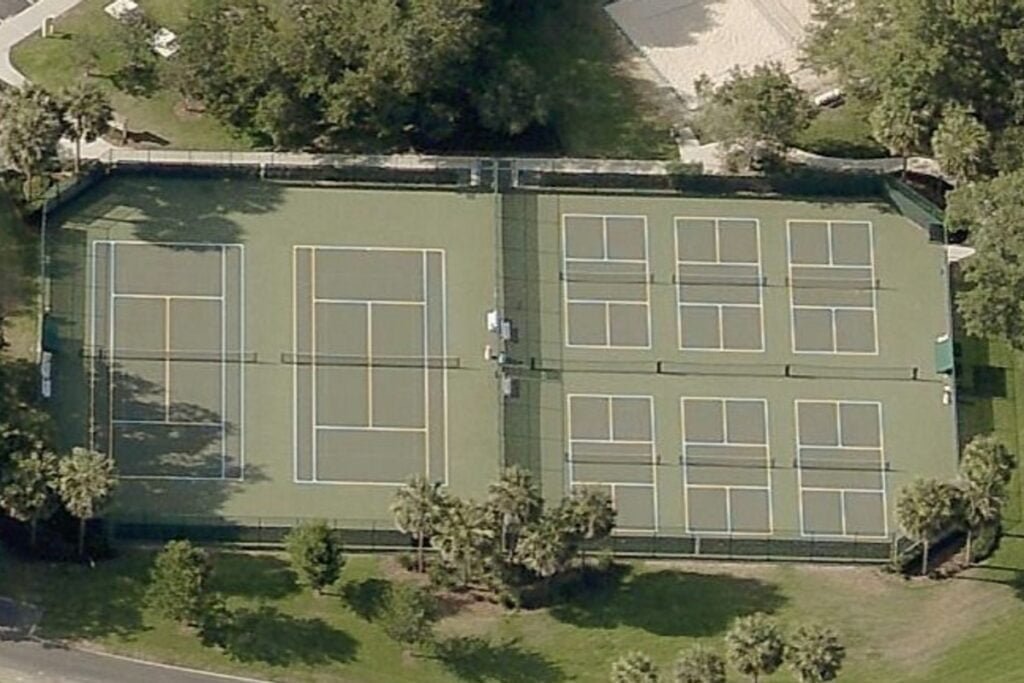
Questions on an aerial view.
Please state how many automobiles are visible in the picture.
zero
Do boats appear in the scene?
No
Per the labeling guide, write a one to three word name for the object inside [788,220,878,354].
sports court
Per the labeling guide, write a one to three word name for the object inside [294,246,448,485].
tennis court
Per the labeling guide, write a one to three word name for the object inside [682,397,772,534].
sports court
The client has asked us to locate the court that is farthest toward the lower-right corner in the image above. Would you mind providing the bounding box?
[795,400,887,537]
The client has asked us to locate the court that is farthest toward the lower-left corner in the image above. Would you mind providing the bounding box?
[90,241,243,480]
